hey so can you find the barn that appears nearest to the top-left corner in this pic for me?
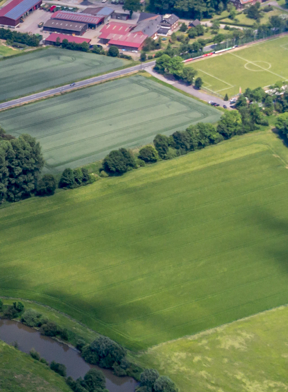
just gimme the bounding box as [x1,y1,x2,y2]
[0,0,42,27]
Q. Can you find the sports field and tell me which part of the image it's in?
top right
